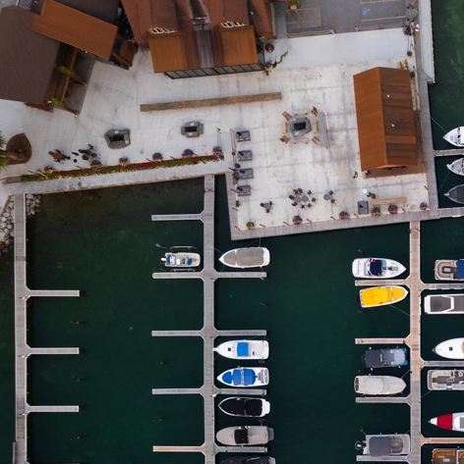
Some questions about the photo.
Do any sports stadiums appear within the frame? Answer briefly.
No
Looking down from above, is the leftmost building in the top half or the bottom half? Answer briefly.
top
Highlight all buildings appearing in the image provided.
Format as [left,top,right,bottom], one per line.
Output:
[125,0,281,80]
[353,64,425,179]
[0,0,141,123]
